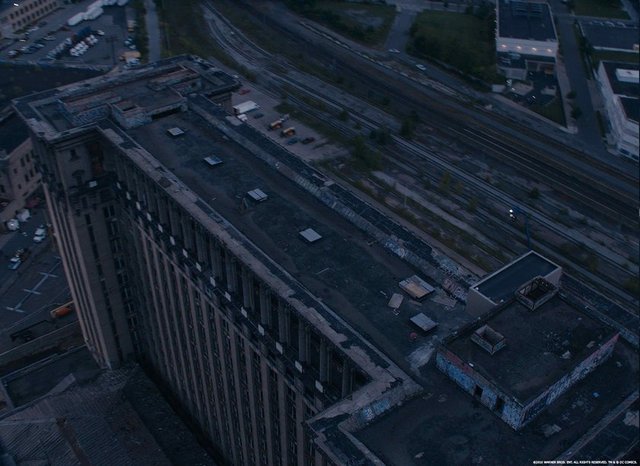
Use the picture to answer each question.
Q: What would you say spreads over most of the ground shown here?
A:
buildings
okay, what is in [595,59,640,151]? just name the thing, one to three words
building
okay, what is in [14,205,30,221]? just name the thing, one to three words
vehicle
